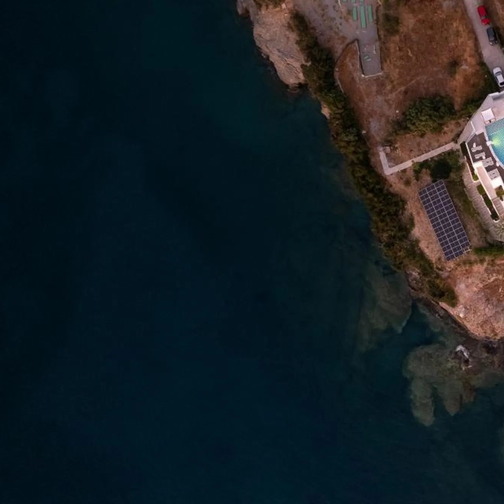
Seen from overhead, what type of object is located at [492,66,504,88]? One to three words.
vehicle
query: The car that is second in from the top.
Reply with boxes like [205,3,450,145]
[484,26,500,47]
